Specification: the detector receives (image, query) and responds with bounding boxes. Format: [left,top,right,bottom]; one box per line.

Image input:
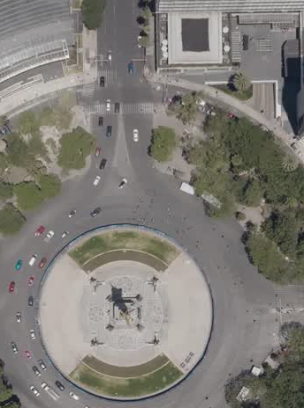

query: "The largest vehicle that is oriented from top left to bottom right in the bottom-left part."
[42,384,59,399]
